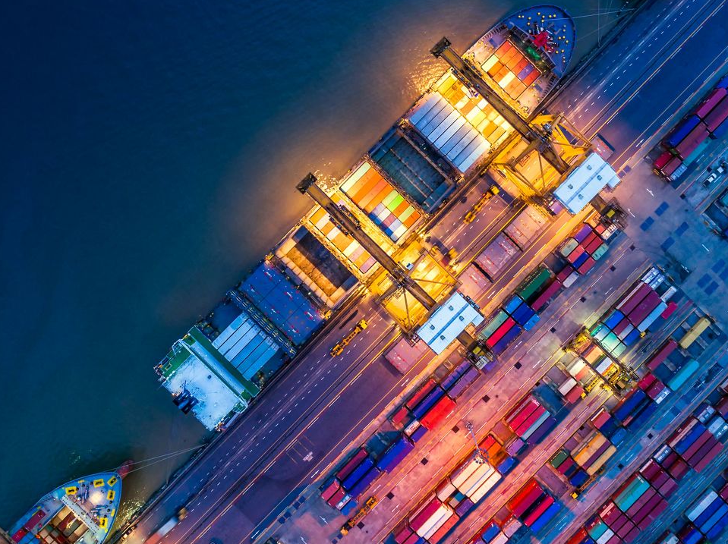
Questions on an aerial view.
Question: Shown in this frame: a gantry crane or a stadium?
gantry crane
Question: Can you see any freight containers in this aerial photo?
Yes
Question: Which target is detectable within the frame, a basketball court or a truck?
truck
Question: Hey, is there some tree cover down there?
No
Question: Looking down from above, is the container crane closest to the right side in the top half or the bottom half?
bottom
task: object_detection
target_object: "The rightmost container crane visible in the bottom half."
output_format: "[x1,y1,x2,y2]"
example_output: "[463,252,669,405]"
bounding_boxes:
[561,324,643,401]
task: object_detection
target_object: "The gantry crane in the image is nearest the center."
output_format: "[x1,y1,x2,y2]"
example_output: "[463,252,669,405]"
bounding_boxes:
[293,171,499,373]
